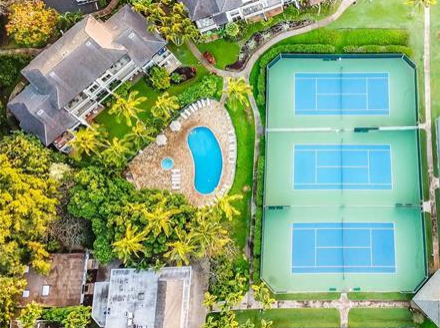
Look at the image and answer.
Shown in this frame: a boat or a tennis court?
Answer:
tennis court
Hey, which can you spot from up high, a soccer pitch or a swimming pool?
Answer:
swimming pool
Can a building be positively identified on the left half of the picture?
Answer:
Yes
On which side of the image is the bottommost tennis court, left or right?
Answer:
right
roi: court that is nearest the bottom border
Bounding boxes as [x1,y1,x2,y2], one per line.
[263,206,426,292]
